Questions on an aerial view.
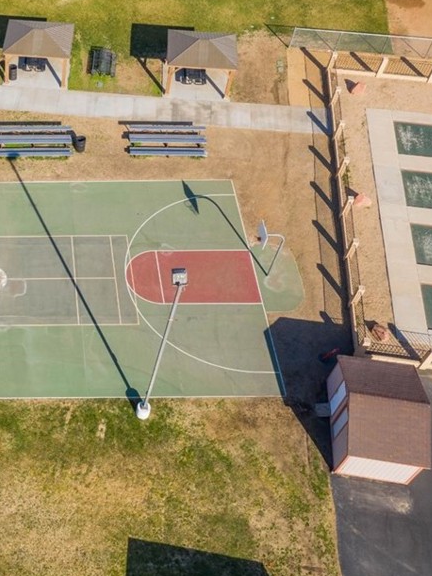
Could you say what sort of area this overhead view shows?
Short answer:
sports ground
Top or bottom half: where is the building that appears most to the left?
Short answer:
top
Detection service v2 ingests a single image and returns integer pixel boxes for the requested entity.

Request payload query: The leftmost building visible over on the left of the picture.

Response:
[1,19,72,91]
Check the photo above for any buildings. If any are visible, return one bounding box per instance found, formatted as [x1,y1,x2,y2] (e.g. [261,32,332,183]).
[162,27,239,101]
[1,19,72,91]
[307,351,432,485]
